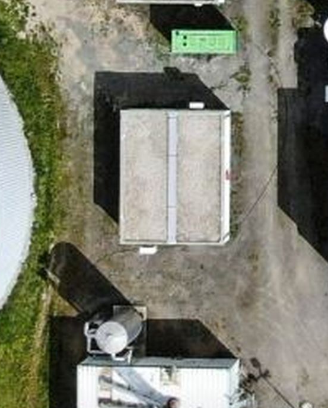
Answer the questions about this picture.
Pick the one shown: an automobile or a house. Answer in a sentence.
Of the two, only a house appears.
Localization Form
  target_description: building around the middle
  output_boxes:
[120,103,233,253]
